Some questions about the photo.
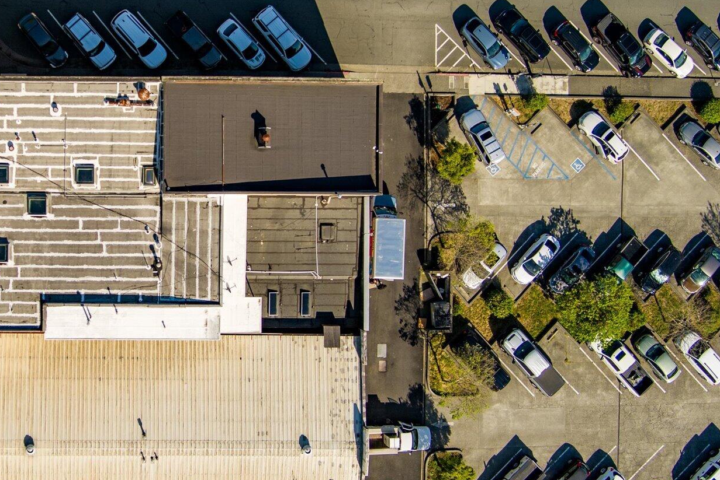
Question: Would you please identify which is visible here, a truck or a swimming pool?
truck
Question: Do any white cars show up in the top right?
Yes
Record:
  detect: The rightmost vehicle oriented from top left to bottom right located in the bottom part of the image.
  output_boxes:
[670,328,720,390]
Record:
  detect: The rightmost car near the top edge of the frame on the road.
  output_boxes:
[681,18,720,73]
